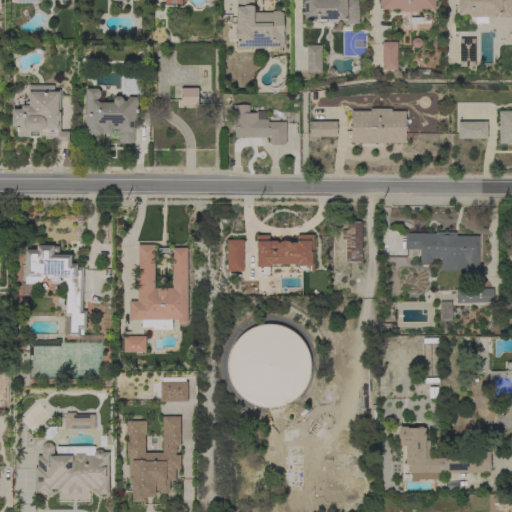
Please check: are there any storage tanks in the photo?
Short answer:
Yes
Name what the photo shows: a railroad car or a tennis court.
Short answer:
tennis court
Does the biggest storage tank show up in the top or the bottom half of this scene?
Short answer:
bottom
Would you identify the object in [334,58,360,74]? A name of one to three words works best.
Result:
swimming pool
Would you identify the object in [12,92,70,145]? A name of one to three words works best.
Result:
house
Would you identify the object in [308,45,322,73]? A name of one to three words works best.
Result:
building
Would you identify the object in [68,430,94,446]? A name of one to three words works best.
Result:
swimming pool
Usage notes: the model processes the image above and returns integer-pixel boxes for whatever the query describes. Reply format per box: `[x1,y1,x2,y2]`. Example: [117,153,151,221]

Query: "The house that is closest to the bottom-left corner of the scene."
[38,441,111,504]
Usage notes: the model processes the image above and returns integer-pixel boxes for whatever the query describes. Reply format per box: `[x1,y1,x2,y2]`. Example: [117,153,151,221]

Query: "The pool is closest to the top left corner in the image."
[22,14,48,32]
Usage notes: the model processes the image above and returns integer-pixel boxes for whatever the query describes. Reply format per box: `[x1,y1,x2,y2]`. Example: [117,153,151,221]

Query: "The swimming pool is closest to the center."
[281,277,302,292]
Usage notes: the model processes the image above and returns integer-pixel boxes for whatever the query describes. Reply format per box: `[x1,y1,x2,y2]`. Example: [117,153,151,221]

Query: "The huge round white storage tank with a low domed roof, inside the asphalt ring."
[228,324,312,408]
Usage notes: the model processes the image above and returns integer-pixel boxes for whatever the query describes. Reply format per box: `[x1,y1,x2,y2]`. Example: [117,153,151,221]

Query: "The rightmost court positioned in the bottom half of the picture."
[33,342,103,378]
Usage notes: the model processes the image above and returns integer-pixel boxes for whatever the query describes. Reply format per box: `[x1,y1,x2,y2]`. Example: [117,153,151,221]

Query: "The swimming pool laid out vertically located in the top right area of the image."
[481,32,494,63]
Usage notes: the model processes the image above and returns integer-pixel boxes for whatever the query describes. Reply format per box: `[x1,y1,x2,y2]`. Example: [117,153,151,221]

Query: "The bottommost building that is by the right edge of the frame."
[400,427,493,481]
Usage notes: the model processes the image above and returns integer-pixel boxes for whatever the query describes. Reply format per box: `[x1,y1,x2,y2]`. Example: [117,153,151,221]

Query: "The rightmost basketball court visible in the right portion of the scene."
[344,31,368,56]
